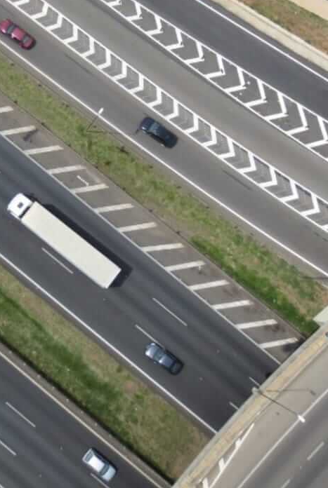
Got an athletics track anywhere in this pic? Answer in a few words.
No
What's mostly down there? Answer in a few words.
paved ground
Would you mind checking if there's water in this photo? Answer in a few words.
No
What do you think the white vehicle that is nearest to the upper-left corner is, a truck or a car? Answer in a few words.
truck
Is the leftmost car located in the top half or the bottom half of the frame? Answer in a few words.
top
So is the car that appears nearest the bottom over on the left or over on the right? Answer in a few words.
left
